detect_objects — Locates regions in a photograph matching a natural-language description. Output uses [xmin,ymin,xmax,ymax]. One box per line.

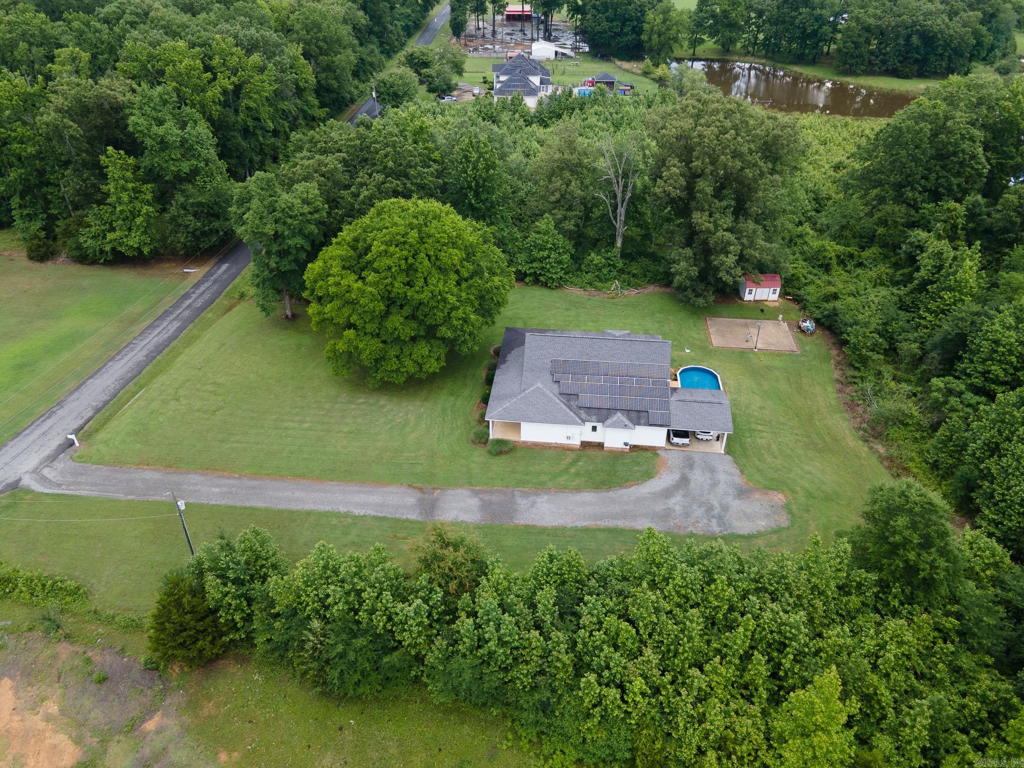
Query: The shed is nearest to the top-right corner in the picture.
[738,273,782,300]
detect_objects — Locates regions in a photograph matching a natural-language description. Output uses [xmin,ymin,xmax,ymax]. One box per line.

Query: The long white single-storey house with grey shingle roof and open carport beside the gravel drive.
[485,328,734,454]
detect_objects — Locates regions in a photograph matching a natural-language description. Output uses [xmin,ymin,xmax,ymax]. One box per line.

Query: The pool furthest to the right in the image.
[676,365,723,392]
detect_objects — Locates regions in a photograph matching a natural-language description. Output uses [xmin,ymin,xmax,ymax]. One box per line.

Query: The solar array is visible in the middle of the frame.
[551,357,671,425]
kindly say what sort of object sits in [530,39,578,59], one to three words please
barn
